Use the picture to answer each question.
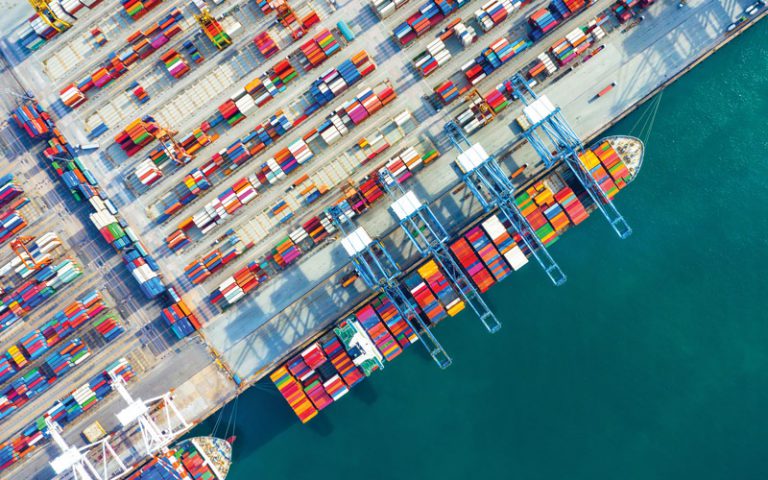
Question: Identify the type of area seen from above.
port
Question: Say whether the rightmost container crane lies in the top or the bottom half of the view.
top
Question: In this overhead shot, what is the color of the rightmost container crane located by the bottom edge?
white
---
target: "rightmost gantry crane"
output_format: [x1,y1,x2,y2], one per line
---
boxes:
[508,70,634,236]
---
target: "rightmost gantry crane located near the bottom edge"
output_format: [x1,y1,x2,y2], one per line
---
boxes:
[104,375,193,480]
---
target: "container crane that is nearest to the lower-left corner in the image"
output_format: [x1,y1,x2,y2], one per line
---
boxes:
[35,424,130,480]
